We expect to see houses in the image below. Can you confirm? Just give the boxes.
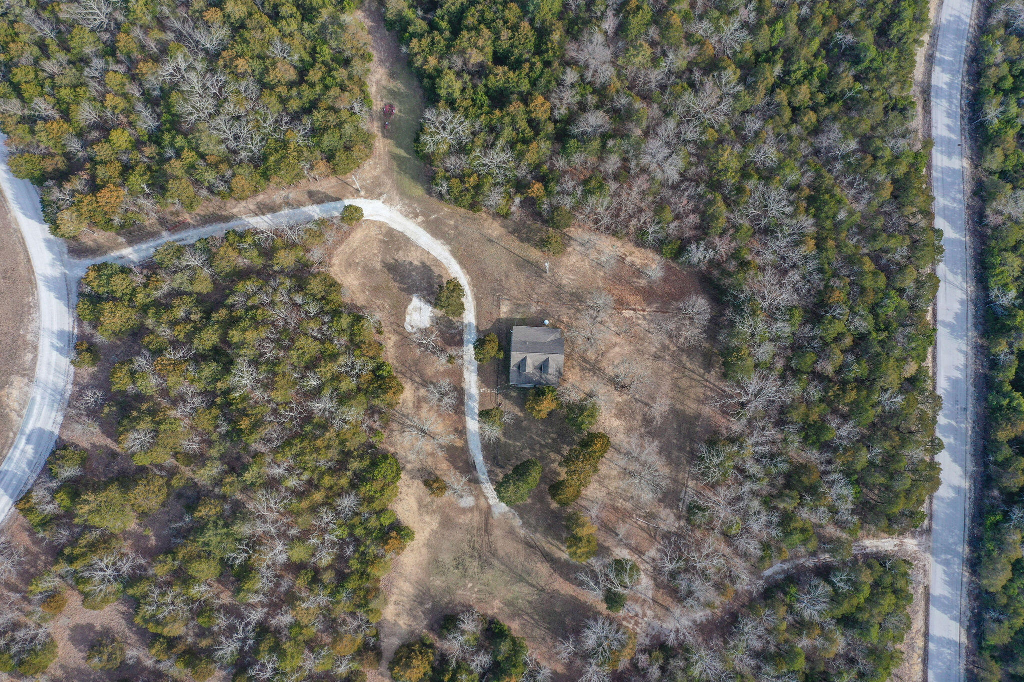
[510,327,564,388]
